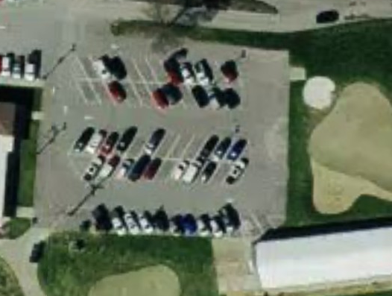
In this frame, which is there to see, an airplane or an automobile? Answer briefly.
automobile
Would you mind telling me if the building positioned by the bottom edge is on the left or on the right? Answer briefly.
right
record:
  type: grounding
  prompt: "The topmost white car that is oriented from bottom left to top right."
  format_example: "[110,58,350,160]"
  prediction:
[86,132,105,154]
